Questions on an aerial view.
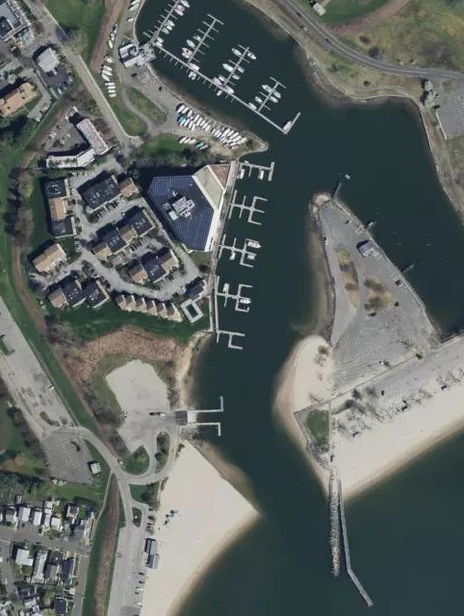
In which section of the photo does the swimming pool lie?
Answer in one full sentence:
The swimming pool sits in the center section of the image.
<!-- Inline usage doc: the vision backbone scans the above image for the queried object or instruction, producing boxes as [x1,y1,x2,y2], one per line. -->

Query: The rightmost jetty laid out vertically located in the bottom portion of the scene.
[338,473,374,607]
